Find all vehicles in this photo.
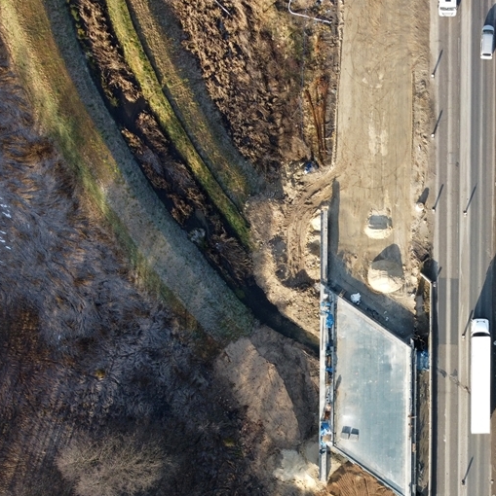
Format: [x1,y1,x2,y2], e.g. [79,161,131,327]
[480,26,495,60]
[471,317,490,441]
[436,0,458,16]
